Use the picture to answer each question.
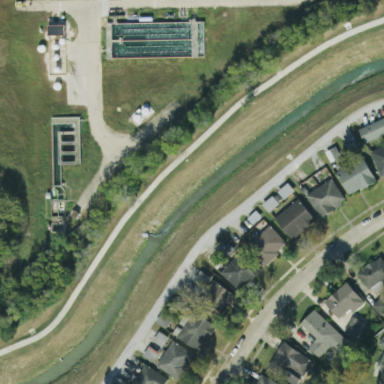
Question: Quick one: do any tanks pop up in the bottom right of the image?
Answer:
No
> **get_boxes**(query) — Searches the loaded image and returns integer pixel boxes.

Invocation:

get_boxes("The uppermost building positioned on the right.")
[359,118,384,142]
